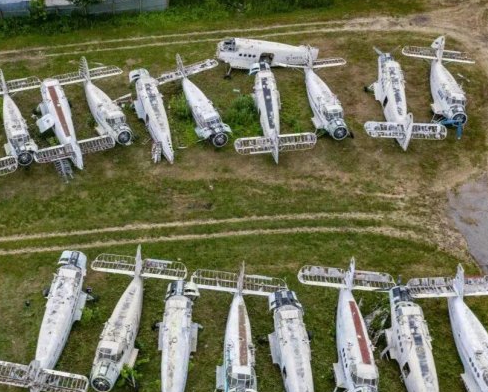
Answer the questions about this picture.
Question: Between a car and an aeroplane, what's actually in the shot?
aeroplane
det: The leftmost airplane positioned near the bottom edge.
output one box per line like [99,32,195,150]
[0,250,97,392]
